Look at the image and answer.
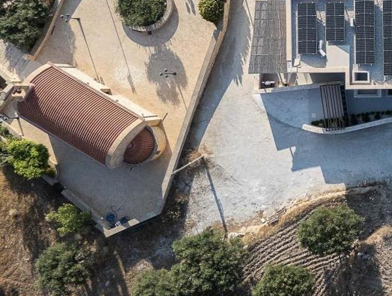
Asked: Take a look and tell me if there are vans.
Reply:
No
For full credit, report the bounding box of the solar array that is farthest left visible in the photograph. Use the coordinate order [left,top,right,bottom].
[298,1,319,56]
